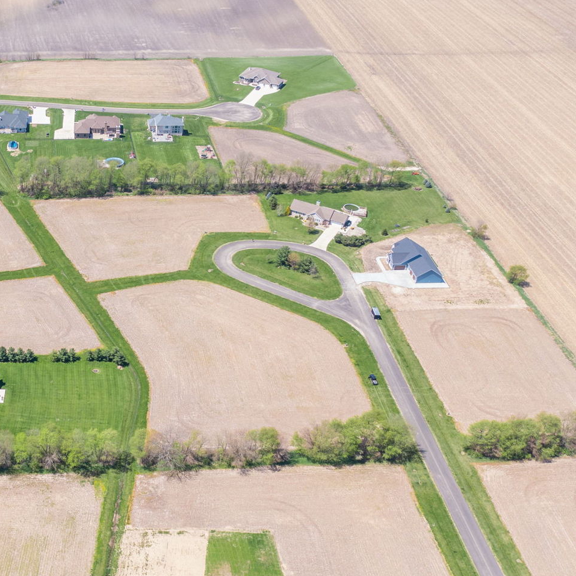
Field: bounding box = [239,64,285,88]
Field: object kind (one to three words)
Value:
house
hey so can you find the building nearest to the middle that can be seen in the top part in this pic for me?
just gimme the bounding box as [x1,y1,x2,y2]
[290,200,352,230]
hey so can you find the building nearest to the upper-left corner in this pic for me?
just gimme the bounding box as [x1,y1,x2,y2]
[0,115,27,133]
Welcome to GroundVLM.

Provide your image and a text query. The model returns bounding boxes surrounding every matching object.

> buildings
[378,236,448,282]
[290,200,352,230]
[146,114,184,136]
[239,64,285,88]
[0,115,27,133]
[73,119,120,138]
